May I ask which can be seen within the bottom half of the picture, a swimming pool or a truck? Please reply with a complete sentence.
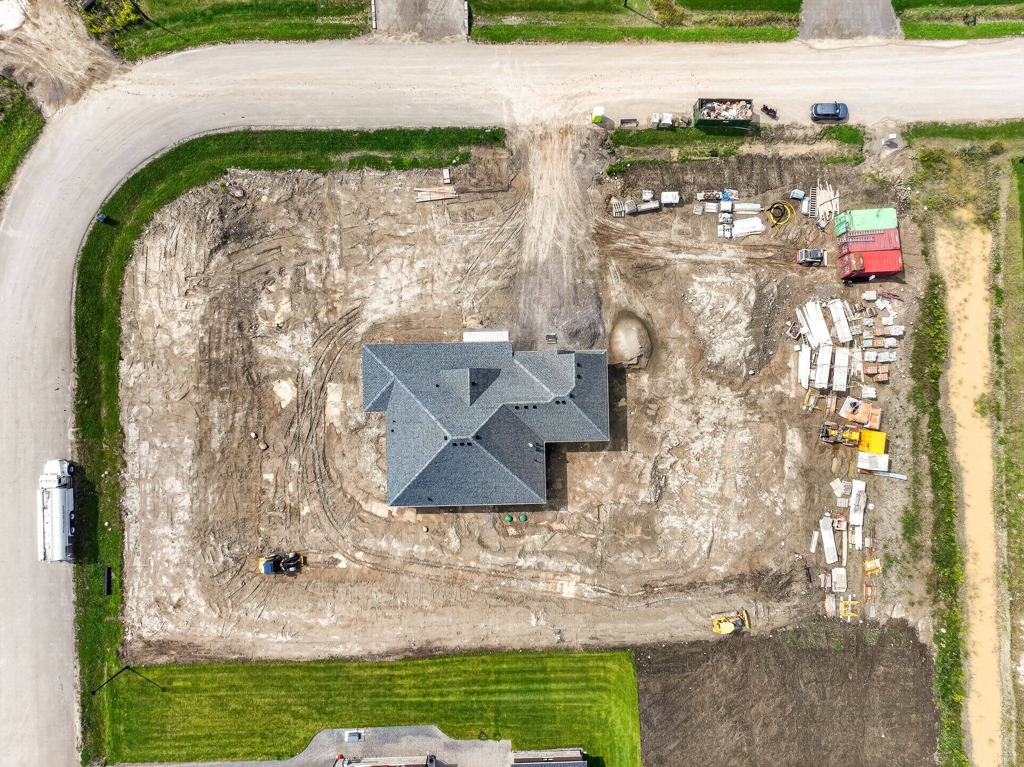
What appears within the bottom half of the picture is a truck.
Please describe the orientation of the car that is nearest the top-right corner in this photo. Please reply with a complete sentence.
I'd say the car that is nearest the top-right corner is aligned from side to side in the picture.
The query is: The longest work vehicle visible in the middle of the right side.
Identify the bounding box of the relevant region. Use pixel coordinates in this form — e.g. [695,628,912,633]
[808,422,863,447]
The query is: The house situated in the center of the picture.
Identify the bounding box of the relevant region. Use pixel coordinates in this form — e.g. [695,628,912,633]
[361,341,610,507]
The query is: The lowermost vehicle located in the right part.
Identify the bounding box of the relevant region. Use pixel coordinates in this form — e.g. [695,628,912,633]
[713,606,749,636]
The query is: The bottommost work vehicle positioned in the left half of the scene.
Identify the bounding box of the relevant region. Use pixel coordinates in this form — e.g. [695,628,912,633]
[257,551,303,575]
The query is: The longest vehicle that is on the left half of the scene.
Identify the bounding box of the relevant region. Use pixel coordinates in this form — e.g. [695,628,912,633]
[38,458,73,562]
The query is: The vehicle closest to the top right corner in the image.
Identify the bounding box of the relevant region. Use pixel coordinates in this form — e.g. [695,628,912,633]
[808,101,847,121]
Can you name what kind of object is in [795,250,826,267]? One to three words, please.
work vehicle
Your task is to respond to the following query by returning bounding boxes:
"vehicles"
[808,101,847,121]
[808,422,863,447]
[760,105,778,119]
[257,551,303,575]
[713,606,749,636]
[38,458,73,562]
[795,250,826,267]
